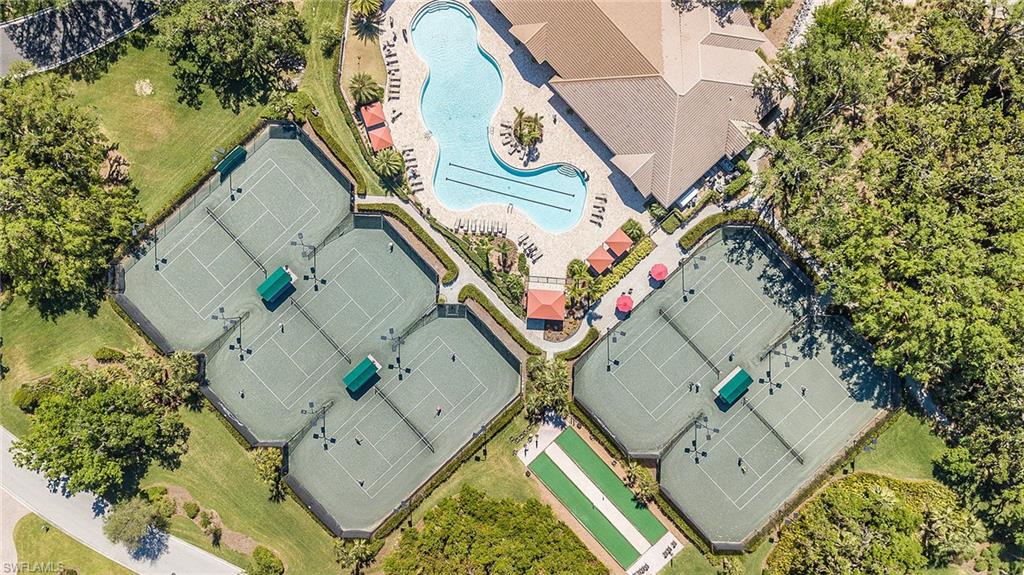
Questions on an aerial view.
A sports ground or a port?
sports ground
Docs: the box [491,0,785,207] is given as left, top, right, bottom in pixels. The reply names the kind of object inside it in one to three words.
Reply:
building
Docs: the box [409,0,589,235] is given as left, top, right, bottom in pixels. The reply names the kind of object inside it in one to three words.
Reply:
swimming pool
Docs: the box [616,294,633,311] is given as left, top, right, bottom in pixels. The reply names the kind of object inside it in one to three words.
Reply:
umbrella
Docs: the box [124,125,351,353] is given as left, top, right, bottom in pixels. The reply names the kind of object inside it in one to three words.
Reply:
tennis court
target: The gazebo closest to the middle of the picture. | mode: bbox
[526,289,565,320]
